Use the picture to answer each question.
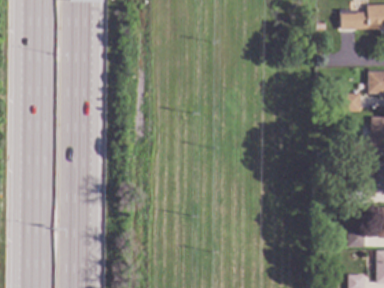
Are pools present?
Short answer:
No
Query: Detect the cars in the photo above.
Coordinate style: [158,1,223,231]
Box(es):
[68,147,74,162]
[23,38,28,46]
[32,104,38,116]
[84,102,91,116]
